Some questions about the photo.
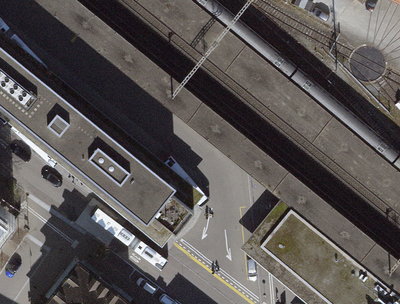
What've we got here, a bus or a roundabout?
bus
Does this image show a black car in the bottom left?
Yes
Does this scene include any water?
No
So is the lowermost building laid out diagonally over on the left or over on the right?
right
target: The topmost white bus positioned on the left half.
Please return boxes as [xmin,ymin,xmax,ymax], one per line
[91,208,168,270]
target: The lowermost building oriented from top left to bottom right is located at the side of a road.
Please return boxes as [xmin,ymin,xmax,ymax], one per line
[241,201,400,304]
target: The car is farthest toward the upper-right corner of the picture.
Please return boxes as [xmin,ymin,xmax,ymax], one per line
[366,0,379,14]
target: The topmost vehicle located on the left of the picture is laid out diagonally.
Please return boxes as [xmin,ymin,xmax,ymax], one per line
[9,142,30,161]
